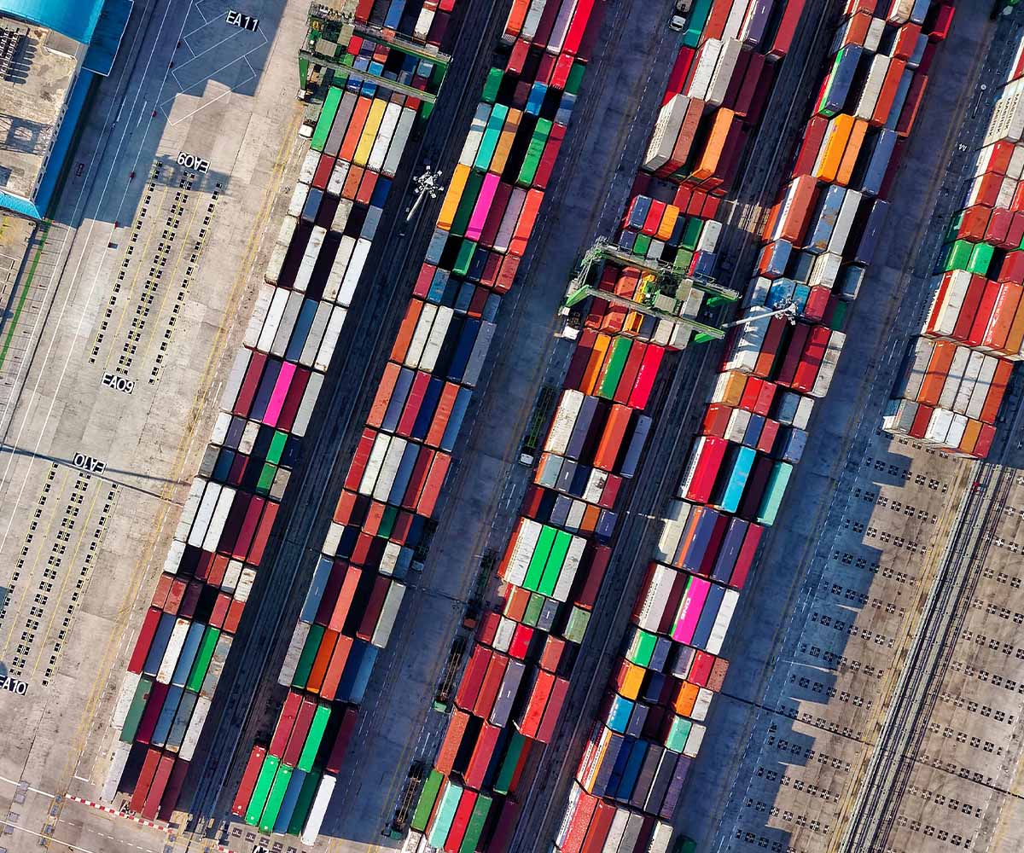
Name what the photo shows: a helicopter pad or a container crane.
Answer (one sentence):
Looking from above, you can make out a container crane.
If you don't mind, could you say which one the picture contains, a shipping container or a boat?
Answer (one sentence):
It is a shipping container that can be seen here.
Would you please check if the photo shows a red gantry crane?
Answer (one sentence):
No, no red gantry crane is visible in the view.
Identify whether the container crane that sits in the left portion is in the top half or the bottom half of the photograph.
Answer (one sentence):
Seen from above, the container crane that sits in the left portion lies in the top half of the view.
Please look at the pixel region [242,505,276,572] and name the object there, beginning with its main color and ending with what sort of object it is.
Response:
red shipping container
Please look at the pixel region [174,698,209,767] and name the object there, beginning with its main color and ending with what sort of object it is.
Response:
white shipping container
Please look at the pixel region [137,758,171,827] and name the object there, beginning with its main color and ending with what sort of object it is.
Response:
red shipping container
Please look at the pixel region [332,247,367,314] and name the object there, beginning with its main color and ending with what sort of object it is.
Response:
white shipping container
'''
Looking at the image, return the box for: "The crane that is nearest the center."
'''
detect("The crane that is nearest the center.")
[555,236,751,352]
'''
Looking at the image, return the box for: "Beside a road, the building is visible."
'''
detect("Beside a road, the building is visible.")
[0,0,135,220]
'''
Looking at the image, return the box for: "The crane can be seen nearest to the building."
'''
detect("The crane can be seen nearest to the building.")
[288,1,461,138]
